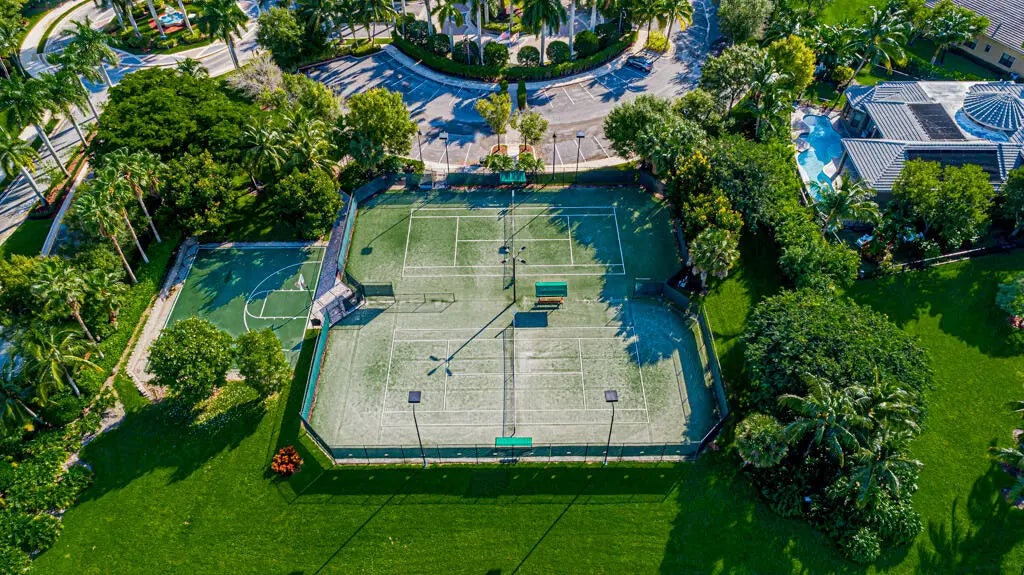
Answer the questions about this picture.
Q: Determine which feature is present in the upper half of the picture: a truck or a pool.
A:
pool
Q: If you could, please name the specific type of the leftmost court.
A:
basketball court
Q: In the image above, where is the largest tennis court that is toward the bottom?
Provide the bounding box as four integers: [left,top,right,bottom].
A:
[310,299,719,464]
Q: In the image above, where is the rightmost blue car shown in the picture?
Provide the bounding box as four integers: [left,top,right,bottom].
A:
[624,53,656,71]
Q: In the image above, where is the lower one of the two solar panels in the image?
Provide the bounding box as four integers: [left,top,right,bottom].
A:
[915,150,1010,183]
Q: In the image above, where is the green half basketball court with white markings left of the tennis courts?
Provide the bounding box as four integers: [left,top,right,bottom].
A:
[164,246,325,357]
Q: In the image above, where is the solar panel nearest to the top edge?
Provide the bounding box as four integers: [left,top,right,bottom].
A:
[899,101,964,138]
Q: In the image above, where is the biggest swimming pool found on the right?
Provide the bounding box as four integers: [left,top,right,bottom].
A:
[796,114,848,205]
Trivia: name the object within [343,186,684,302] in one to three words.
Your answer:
tennis court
